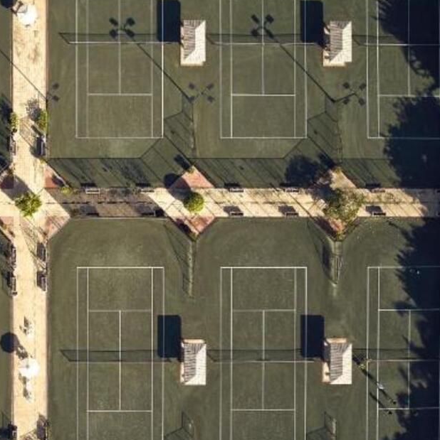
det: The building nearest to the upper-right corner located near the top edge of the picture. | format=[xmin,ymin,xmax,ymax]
[324,20,353,67]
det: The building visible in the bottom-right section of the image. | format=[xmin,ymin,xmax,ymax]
[324,339,353,386]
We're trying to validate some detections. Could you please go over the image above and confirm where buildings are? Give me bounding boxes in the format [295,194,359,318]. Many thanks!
[324,20,353,67]
[324,339,353,386]
[180,20,206,65]
[180,340,206,386]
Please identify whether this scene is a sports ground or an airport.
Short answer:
sports ground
